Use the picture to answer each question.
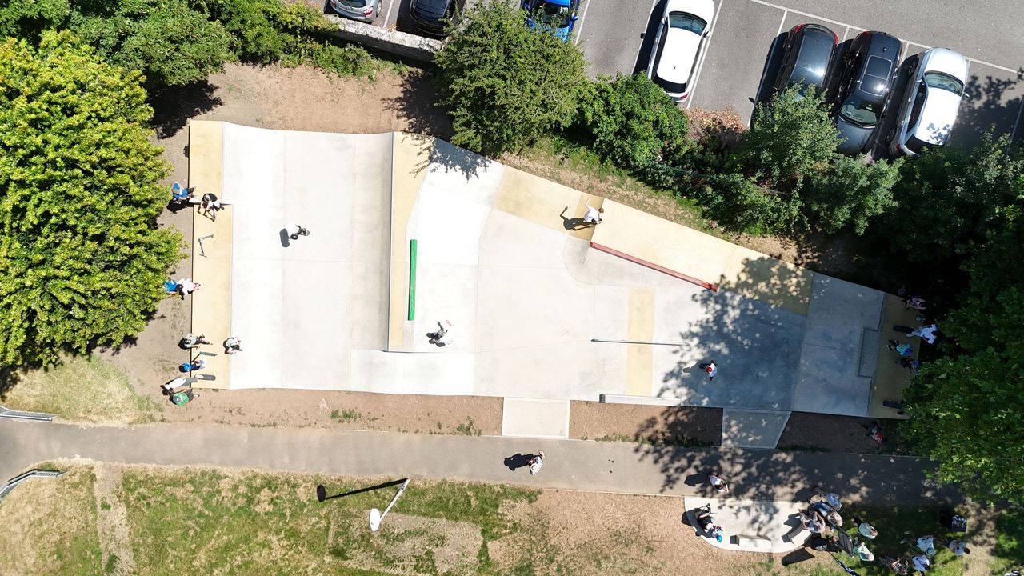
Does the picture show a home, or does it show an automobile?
automobile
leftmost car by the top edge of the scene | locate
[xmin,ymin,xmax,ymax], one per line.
[331,0,387,24]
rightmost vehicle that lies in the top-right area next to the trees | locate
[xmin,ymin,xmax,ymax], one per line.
[890,44,975,159]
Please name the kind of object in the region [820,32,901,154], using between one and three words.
car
